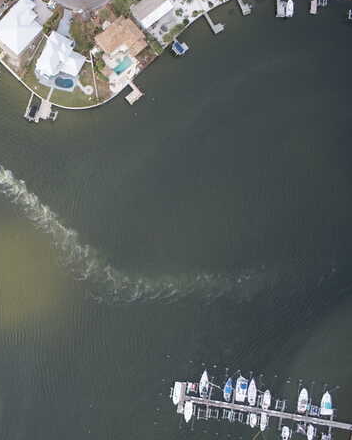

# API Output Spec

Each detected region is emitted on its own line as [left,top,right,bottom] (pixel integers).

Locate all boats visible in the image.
[309,406,320,415]
[250,412,257,427]
[286,0,294,17]
[185,400,193,422]
[249,378,267,405]
[298,388,309,412]
[307,423,313,440]
[263,390,271,410]
[235,376,248,402]
[171,39,189,57]
[225,378,242,402]
[189,381,196,393]
[260,412,268,430]
[320,433,331,440]
[282,425,289,440]
[174,380,181,404]
[200,371,216,398]
[322,391,332,413]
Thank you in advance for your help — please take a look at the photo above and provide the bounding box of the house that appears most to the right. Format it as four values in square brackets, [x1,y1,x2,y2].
[130,0,174,29]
